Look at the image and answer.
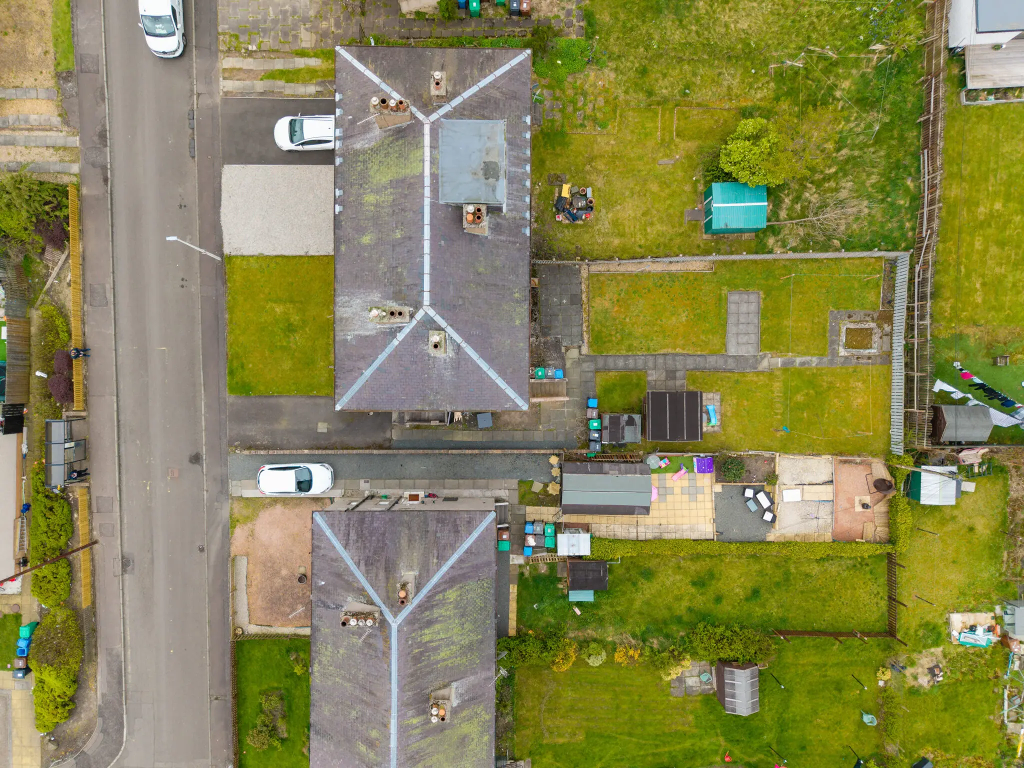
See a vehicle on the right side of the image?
No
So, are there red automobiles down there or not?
No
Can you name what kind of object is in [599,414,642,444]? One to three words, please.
shed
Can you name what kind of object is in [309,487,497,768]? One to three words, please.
house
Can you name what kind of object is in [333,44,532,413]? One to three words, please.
house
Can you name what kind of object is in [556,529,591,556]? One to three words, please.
shed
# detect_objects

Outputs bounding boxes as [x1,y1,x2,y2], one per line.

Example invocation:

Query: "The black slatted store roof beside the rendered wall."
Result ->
[0,403,35,433]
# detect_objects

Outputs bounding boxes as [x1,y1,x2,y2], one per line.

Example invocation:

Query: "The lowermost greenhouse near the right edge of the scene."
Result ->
[993,598,1024,634]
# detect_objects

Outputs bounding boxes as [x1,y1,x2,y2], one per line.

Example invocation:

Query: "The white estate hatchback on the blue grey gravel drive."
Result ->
[257,461,335,499]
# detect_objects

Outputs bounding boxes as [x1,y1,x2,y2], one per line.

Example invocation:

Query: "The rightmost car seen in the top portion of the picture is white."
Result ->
[272,116,333,155]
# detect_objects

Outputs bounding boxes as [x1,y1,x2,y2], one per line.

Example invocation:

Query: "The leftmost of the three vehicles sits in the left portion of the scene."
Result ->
[143,0,188,62]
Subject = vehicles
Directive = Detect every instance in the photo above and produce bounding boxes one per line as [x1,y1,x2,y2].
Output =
[257,461,335,499]
[272,116,333,155]
[143,0,188,62]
